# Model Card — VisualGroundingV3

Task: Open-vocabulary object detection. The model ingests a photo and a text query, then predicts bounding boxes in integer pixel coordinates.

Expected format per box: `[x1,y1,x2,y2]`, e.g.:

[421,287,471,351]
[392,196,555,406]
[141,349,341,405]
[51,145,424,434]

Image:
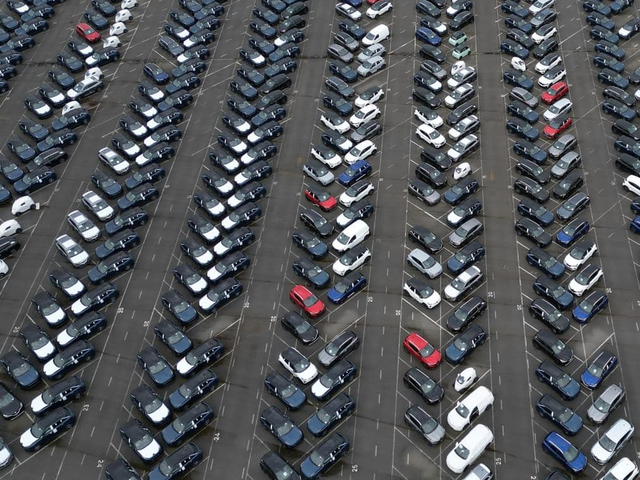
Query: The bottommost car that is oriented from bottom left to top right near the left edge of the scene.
[20,405,79,453]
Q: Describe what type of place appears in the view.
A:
parking lot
